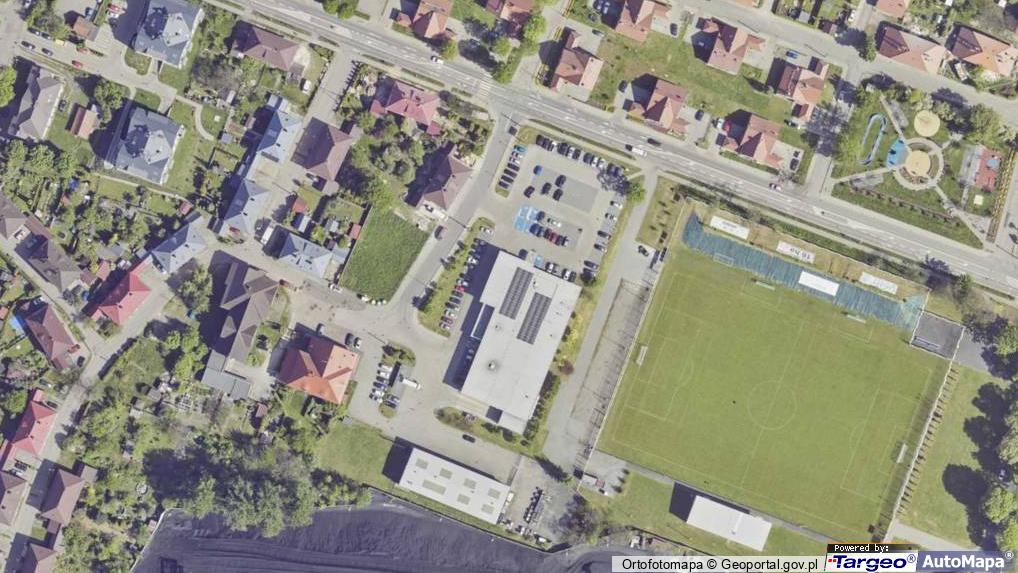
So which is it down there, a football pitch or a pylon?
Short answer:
football pitch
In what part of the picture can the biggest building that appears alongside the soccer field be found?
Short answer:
center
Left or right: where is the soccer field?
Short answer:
right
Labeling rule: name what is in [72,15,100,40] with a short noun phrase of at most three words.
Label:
building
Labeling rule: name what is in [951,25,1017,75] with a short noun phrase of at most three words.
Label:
house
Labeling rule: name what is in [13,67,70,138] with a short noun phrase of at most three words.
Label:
house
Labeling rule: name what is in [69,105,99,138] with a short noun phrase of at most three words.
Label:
shed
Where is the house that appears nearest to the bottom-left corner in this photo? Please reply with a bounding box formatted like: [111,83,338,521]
[19,539,63,573]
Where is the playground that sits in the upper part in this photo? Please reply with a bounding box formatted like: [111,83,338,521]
[831,96,1000,249]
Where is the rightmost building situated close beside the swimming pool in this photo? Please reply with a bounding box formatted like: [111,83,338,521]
[25,304,79,371]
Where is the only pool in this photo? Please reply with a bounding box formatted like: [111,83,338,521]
[7,314,25,333]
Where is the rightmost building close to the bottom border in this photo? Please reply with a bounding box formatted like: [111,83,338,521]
[686,494,772,552]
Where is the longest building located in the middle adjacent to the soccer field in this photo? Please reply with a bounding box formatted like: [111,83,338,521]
[460,249,583,435]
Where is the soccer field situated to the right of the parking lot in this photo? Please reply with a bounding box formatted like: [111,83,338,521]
[597,204,950,543]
